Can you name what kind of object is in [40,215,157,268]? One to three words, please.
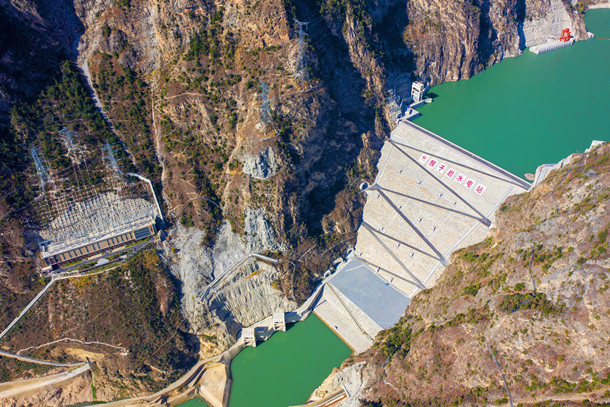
building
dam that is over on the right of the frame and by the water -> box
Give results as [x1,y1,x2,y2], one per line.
[315,120,531,353]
